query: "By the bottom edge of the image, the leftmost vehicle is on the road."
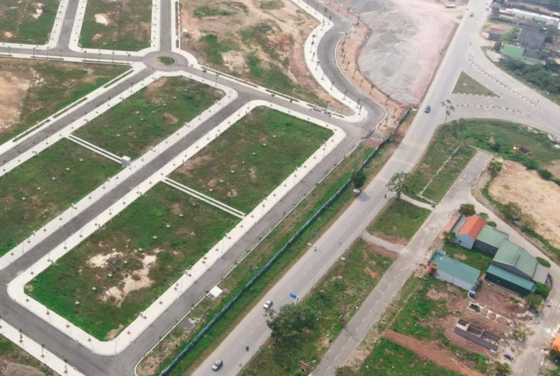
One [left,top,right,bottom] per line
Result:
[210,354,225,372]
